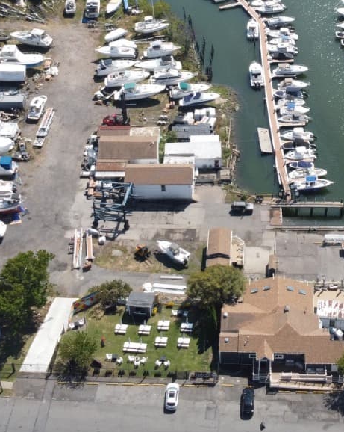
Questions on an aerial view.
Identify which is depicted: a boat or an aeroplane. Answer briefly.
boat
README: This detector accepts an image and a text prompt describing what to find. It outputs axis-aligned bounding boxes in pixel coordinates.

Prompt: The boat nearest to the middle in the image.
[159,241,195,271]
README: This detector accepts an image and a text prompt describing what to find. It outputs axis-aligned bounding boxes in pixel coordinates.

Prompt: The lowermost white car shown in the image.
[163,383,180,412]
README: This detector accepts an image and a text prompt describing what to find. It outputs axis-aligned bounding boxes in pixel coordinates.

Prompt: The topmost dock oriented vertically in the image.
[219,0,313,201]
